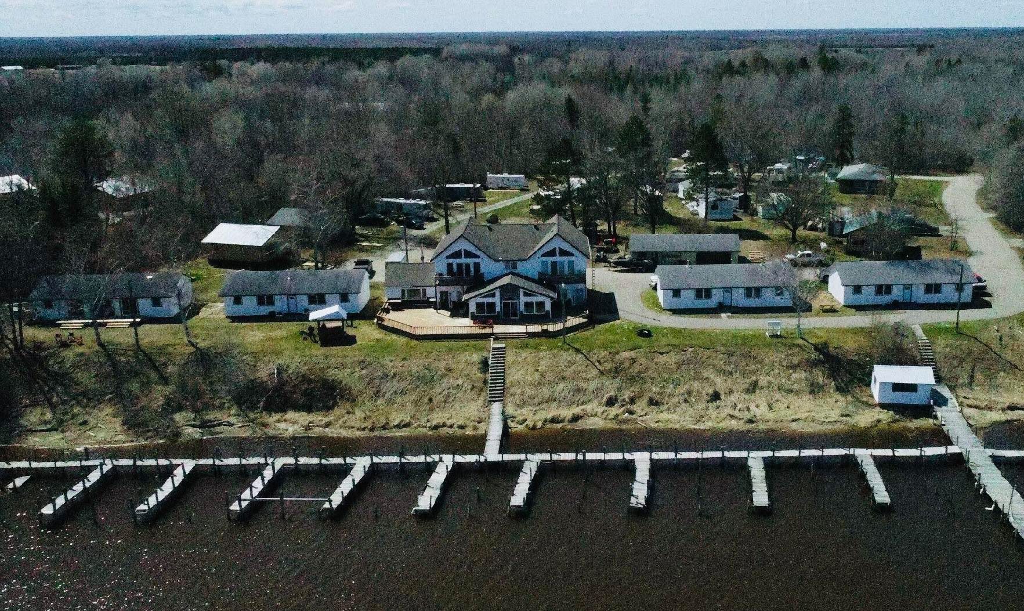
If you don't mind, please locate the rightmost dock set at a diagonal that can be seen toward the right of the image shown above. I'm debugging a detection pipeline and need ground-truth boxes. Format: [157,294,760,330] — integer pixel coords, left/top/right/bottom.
[929,393,1024,538]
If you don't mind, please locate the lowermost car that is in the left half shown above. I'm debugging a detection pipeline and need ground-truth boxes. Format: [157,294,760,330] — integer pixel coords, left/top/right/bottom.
[354,261,377,278]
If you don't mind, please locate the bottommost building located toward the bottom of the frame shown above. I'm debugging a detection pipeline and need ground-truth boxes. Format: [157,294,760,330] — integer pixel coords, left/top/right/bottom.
[863,368,935,405]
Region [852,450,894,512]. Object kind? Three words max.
pier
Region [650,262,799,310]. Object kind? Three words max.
building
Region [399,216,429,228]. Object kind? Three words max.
vehicle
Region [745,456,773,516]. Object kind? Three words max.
pier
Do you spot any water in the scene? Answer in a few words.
Yes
